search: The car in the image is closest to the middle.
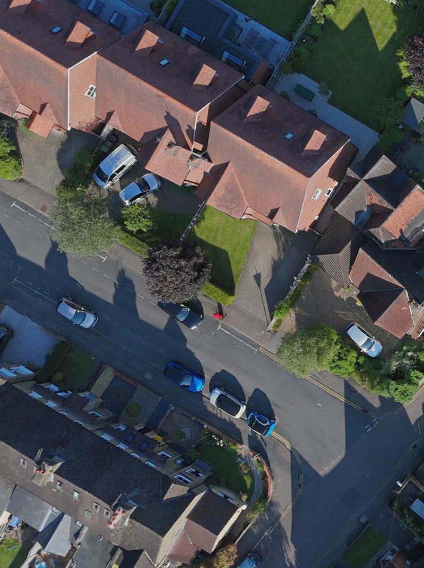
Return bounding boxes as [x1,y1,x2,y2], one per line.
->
[156,297,203,329]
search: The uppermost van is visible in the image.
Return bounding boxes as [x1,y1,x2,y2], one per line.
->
[93,143,137,189]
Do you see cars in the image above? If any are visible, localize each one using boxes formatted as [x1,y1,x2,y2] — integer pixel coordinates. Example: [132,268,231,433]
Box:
[156,297,203,329]
[344,320,383,356]
[118,173,164,207]
[238,552,262,568]
[0,324,16,355]
[244,411,277,436]
[163,363,205,391]
[54,298,100,329]
[210,389,247,419]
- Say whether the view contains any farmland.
No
